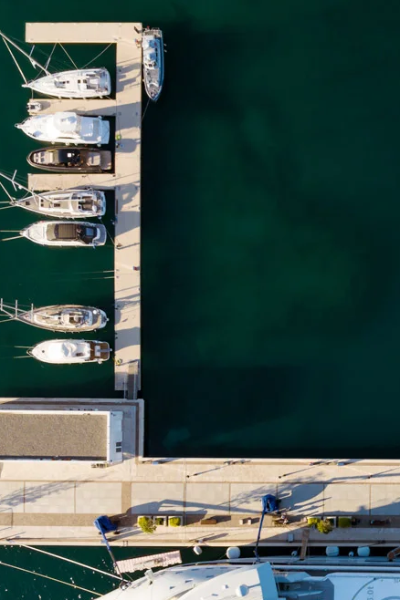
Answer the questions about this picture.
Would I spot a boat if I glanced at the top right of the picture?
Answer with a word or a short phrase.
No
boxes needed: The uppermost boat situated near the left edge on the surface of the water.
[0,32,114,99]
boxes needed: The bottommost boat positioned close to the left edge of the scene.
[17,338,113,366]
